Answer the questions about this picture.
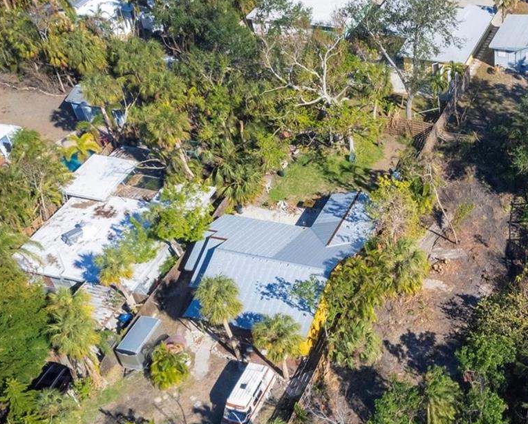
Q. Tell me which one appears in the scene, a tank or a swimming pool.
swimming pool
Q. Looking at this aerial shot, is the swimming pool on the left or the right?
left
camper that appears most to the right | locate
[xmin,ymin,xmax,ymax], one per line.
[216,355,273,424]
